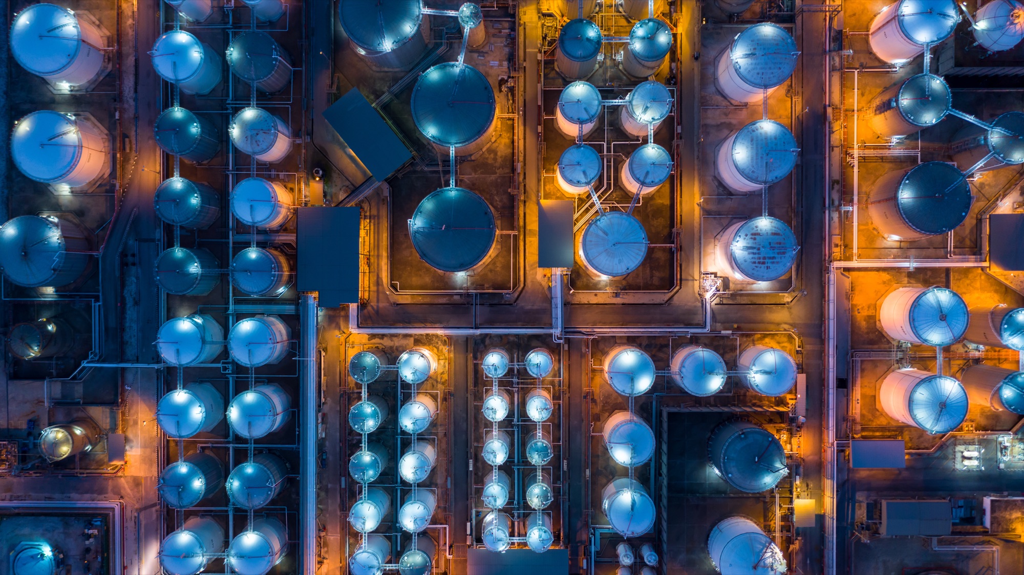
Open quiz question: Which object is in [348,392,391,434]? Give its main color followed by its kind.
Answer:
blue storage tank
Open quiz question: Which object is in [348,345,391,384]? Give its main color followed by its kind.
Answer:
blue storage tank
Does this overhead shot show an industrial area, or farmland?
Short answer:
industrial area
